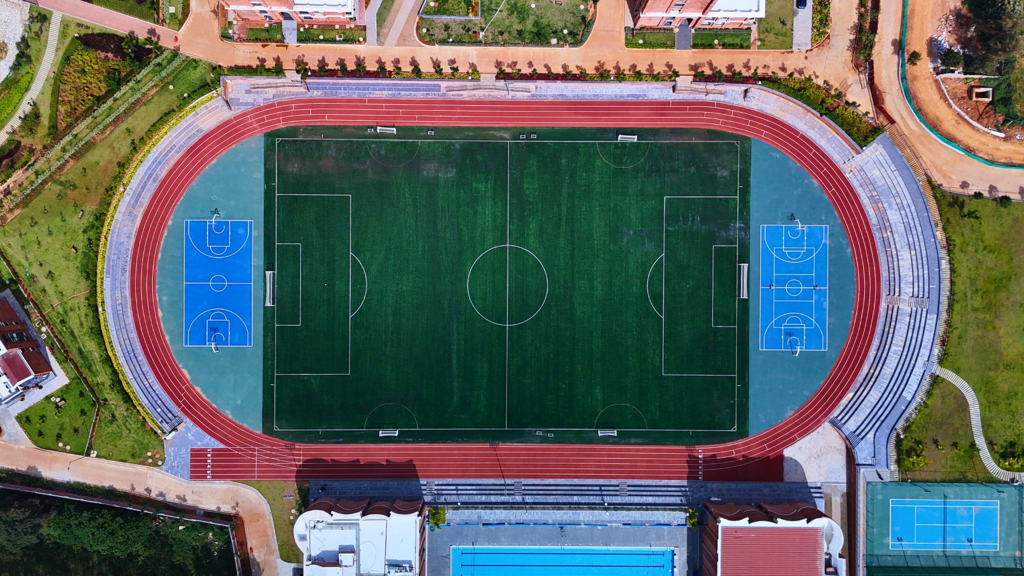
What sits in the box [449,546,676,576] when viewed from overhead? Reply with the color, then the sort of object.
blue swimming pool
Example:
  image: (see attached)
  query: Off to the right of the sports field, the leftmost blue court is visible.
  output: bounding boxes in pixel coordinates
[750,134,858,437]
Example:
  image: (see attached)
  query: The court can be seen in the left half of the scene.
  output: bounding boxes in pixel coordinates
[153,130,263,436]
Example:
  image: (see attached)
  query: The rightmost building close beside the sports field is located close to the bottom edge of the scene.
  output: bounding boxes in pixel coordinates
[704,503,846,576]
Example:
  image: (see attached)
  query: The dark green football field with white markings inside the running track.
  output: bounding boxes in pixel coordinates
[263,124,750,445]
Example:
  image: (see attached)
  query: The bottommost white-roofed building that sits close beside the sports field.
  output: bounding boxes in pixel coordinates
[294,496,427,576]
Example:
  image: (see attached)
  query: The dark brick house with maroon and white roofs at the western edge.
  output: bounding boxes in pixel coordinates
[0,288,55,410]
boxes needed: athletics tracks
[129,98,881,481]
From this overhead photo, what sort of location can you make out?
sports ground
